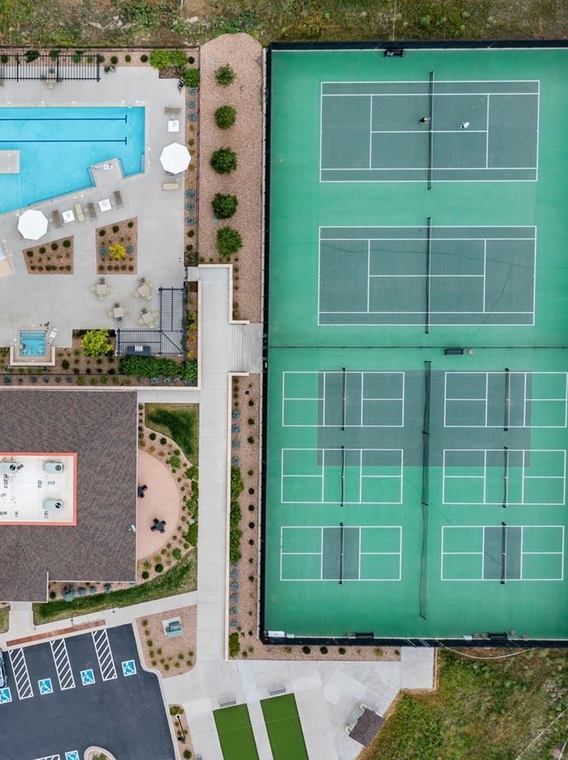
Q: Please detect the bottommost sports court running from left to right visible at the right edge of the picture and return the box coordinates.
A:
[441,525,564,581]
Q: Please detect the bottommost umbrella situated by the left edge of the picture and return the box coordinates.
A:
[18,210,47,239]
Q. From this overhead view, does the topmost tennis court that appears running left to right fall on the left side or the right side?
right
